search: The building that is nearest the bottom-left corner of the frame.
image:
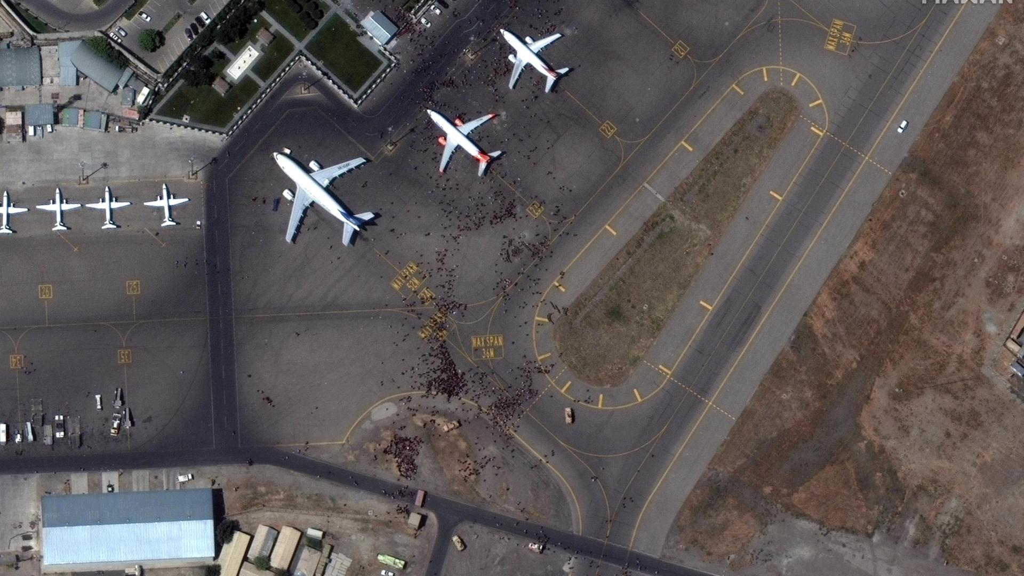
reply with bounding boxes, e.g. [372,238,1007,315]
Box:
[42,488,214,571]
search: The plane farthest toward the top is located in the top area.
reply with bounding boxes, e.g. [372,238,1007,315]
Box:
[500,29,569,91]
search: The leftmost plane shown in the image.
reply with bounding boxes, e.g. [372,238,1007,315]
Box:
[0,191,28,231]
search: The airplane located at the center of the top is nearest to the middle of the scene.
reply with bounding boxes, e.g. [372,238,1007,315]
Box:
[427,110,502,174]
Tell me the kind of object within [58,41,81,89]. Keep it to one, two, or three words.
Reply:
building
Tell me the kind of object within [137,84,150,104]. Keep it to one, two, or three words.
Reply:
vehicle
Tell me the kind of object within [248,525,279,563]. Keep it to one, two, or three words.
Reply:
shed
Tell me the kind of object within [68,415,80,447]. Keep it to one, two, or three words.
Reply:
vehicle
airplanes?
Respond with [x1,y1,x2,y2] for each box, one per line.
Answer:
[427,110,502,174]
[144,183,189,224]
[273,153,374,245]
[85,186,130,226]
[36,188,81,228]
[0,191,28,231]
[500,29,569,91]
